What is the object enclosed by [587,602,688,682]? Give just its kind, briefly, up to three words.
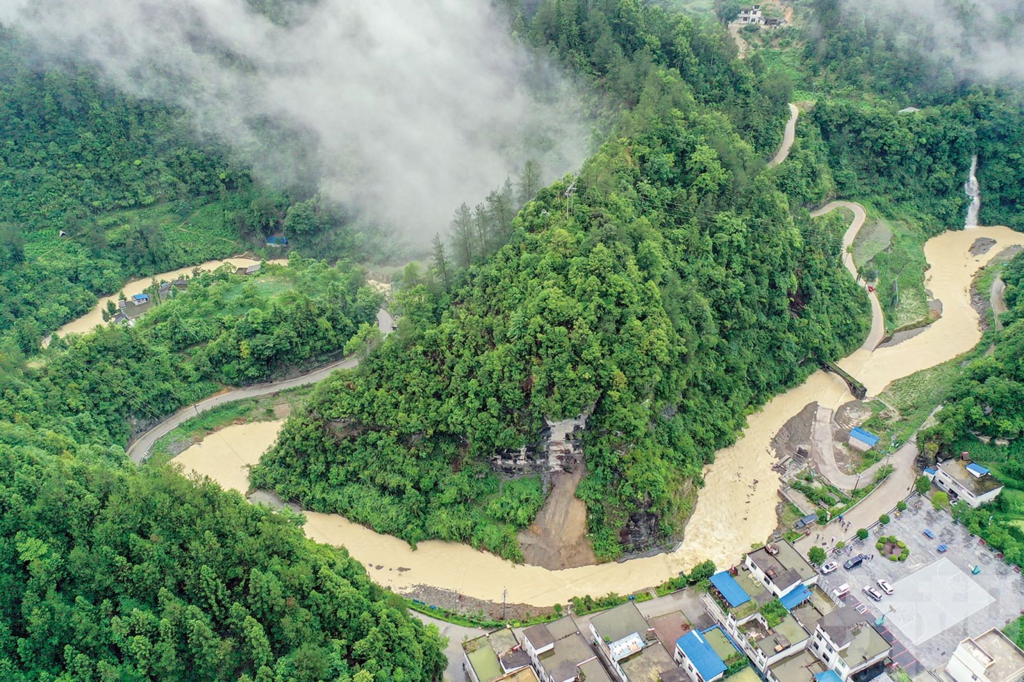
house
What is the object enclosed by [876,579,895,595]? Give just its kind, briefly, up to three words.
car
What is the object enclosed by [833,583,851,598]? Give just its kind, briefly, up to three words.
vehicle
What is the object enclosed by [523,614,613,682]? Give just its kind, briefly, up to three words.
house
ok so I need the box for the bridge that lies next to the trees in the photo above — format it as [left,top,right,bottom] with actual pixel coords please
[820,361,867,402]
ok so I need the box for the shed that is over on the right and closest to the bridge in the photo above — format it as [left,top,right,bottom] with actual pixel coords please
[847,427,881,451]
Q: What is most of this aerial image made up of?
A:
trees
